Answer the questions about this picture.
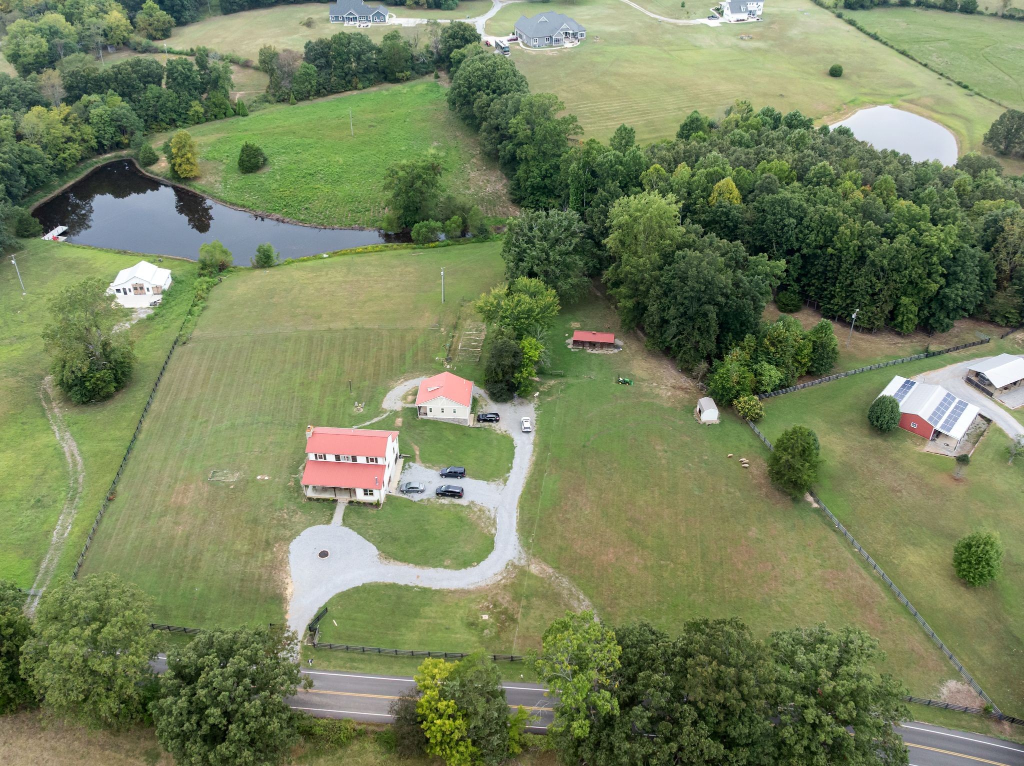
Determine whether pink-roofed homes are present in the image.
Yes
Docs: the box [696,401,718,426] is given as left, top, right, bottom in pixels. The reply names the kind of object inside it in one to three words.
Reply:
shed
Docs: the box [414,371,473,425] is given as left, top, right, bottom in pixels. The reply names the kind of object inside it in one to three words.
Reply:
house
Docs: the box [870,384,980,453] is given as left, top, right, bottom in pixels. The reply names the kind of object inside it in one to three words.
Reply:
barn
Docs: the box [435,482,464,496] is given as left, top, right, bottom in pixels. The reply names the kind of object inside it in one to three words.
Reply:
car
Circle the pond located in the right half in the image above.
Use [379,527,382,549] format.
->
[813,106,959,193]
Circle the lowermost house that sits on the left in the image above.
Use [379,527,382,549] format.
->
[299,418,401,504]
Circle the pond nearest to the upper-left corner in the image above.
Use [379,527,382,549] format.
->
[33,160,503,268]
